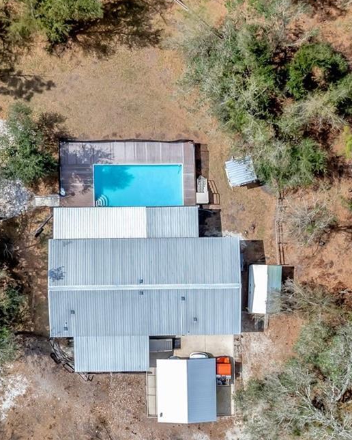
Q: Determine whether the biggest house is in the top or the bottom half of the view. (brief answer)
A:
bottom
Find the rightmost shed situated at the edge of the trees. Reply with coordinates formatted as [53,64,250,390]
[246,265,283,313]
